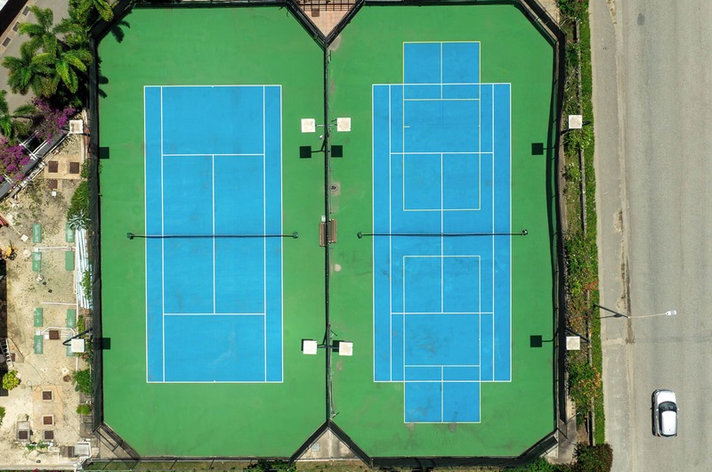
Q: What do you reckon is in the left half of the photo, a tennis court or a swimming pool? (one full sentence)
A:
Looking in the left half of the photo, you will find a tennis court.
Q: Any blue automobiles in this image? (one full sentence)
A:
No, there isn't any blue automobile down there.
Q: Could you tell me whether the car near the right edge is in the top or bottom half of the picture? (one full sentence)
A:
The bottom half of the photo is where the car near the right edge is.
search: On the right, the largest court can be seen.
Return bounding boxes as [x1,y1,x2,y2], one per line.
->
[327,3,558,456]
